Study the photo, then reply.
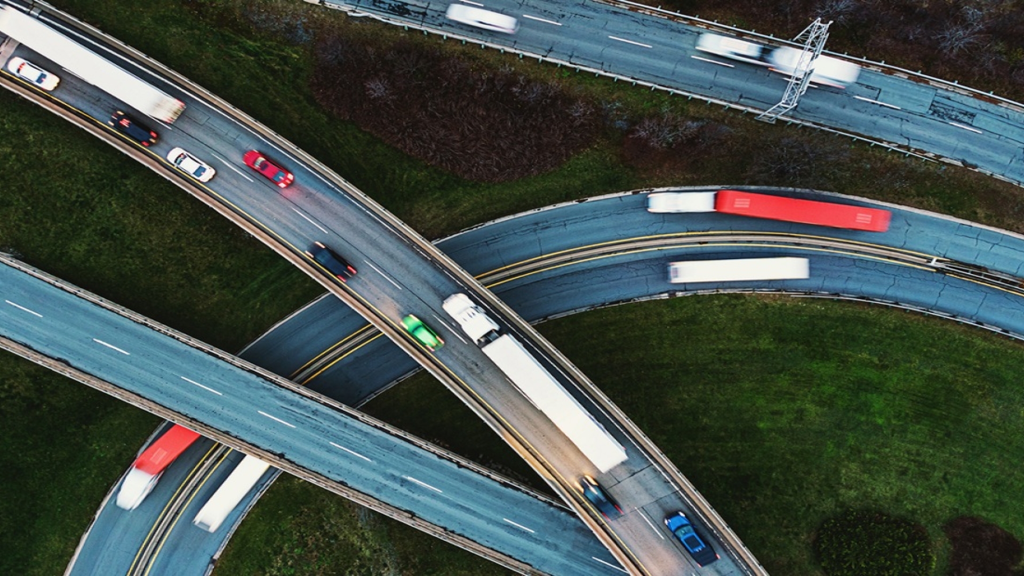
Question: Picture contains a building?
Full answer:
No, no building is visible in the scene.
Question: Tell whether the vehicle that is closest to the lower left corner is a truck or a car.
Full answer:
In the photo, the vehicle that is closest to the lower left corner shows up as a truck.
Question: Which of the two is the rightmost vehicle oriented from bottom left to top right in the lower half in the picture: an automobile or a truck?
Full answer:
The rightmost vehicle oriented from bottom left to top right in the lower half is a truck.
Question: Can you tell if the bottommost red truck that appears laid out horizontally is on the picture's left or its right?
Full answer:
The bottommost red truck that appears laid out horizontally appears in the right half of the scene.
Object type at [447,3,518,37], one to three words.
van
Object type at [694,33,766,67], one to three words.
van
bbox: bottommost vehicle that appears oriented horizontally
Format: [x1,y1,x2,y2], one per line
[668,255,811,283]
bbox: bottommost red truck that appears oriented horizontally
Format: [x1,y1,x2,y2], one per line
[644,189,889,234]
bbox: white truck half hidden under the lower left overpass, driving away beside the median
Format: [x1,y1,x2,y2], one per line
[195,453,274,534]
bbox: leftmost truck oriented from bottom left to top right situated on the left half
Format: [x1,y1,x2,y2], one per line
[120,422,205,504]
